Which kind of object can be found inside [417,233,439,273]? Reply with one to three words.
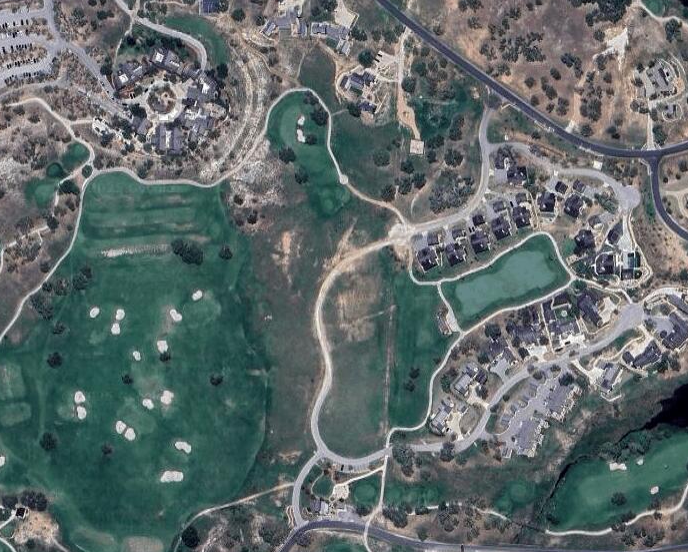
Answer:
house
